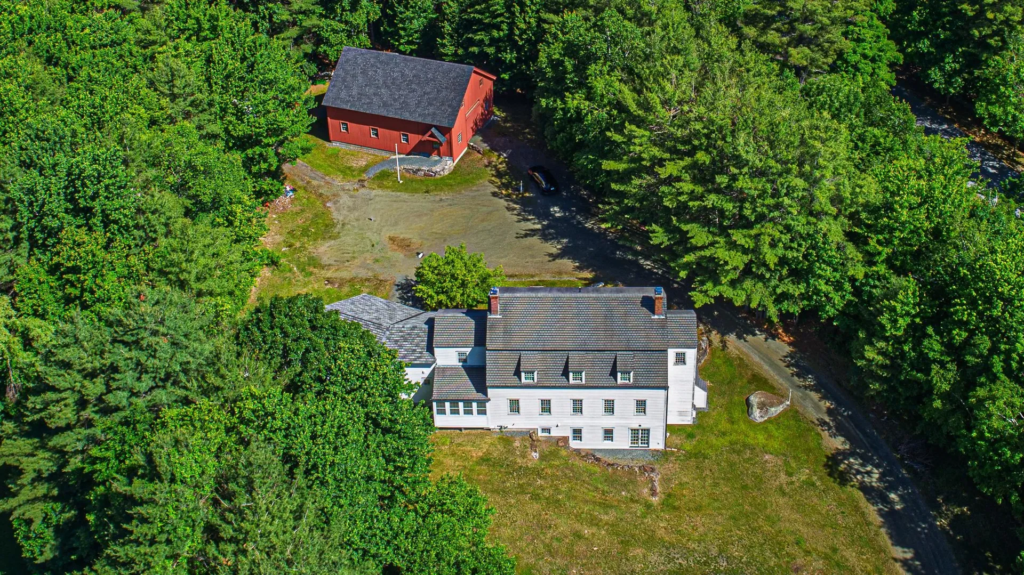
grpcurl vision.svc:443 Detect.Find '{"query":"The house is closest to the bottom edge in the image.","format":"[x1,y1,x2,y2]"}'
[316,287,709,450]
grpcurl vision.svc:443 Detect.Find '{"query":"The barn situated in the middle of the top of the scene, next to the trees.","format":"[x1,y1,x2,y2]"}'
[322,45,497,166]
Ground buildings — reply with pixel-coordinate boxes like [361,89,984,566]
[322,45,497,166]
[316,287,709,450]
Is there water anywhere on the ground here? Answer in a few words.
No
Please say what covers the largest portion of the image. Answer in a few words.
trees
